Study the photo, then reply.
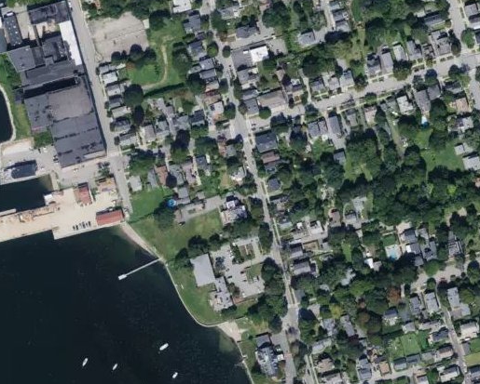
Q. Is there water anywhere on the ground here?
Yes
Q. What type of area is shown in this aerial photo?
residential area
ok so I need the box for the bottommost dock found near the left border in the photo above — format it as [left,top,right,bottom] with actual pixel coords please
[0,185,122,242]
